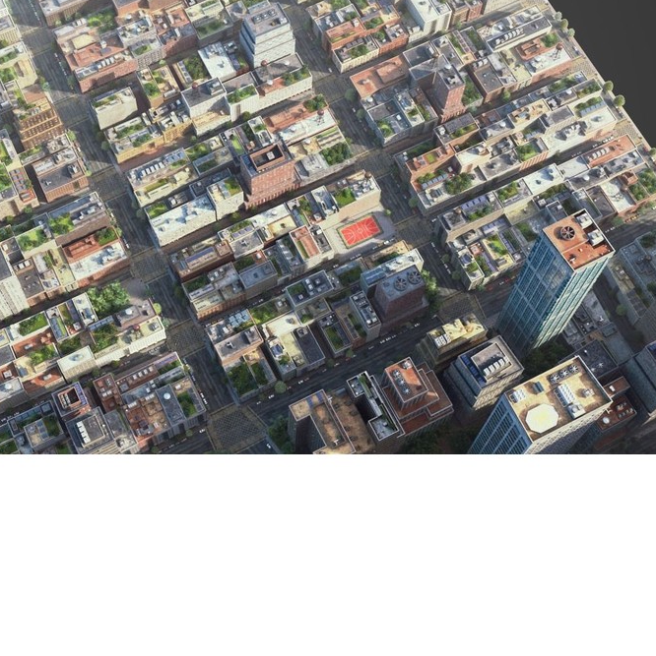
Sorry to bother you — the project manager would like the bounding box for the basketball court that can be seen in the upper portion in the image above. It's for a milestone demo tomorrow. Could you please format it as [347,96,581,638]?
[337,214,382,248]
